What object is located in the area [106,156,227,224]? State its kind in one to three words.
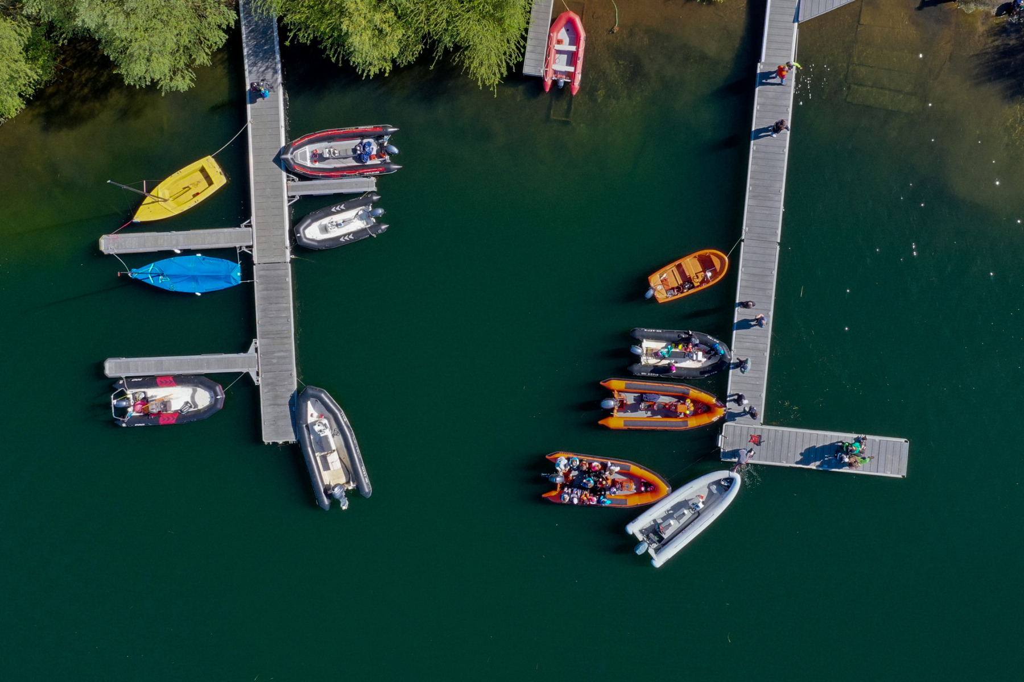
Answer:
boat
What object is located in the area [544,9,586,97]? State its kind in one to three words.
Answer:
boat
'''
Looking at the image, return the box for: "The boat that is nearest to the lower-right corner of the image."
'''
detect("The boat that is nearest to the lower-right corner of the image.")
[626,468,743,569]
